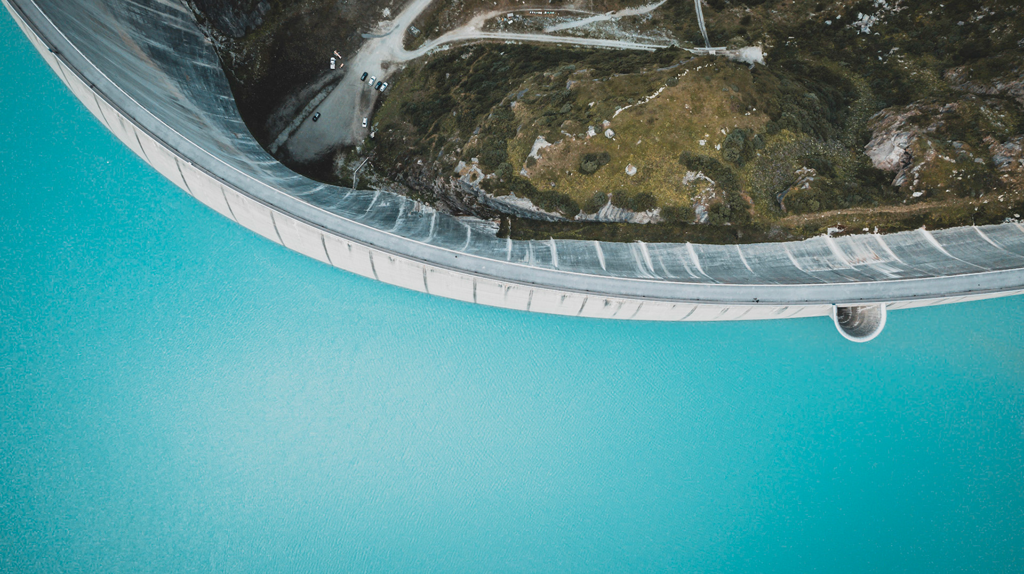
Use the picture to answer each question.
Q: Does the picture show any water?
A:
Yes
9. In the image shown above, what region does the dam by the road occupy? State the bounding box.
[3,0,1024,321]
